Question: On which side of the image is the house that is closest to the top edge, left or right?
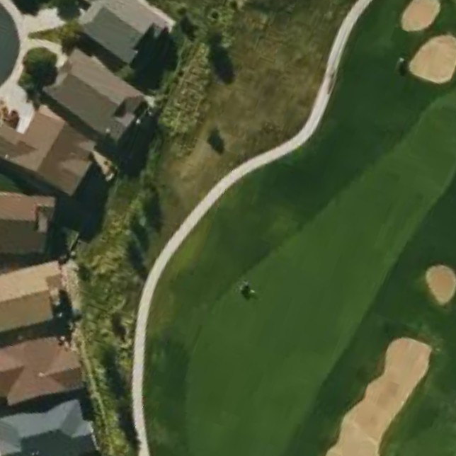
left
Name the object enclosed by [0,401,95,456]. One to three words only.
house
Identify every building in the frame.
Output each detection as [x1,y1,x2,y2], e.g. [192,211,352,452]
[0,334,84,406]
[0,260,62,332]
[75,0,176,58]
[0,401,95,456]
[50,53,156,141]
[0,193,54,252]
[0,105,113,189]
